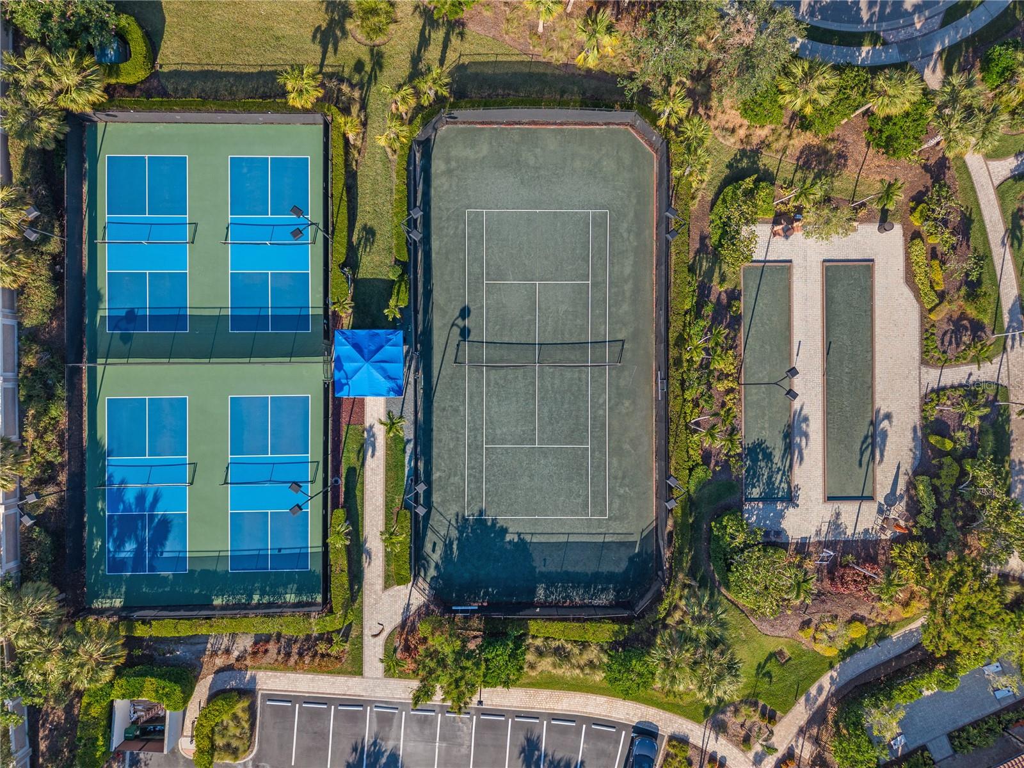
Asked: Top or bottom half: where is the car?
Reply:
bottom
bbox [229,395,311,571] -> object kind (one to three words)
sports court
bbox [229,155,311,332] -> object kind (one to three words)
sports court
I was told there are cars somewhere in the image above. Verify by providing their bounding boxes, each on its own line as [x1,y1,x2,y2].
[629,731,658,768]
